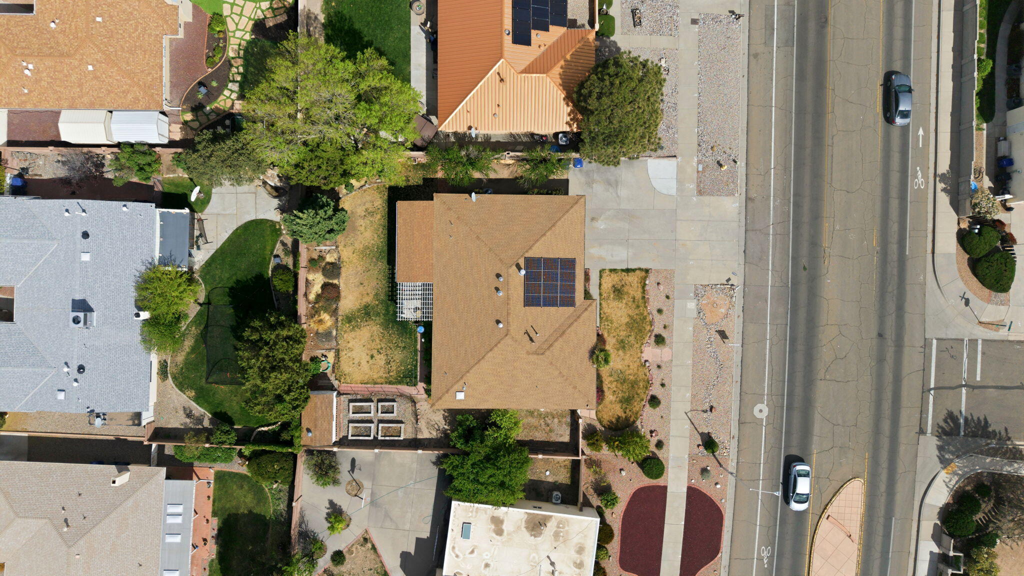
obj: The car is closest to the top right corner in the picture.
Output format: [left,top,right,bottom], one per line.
[888,72,919,126]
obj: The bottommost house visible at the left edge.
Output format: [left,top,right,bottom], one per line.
[0,461,166,576]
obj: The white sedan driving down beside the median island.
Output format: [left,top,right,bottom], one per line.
[785,456,814,509]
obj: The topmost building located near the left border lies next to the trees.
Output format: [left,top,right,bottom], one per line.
[0,0,184,111]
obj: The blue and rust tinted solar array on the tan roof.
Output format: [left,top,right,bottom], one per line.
[525,257,576,308]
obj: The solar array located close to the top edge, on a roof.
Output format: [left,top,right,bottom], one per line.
[513,0,568,45]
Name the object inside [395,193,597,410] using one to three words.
house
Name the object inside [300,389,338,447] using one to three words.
shed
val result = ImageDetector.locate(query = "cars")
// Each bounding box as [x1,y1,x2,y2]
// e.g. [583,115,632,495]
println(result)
[888,72,919,126]
[785,456,814,509]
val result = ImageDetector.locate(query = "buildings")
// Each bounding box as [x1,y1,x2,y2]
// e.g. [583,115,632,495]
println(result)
[1005,107,1024,208]
[300,389,338,447]
[0,197,157,412]
[395,193,597,410]
[0,461,166,576]
[0,0,184,111]
[437,0,597,132]
[442,495,601,576]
